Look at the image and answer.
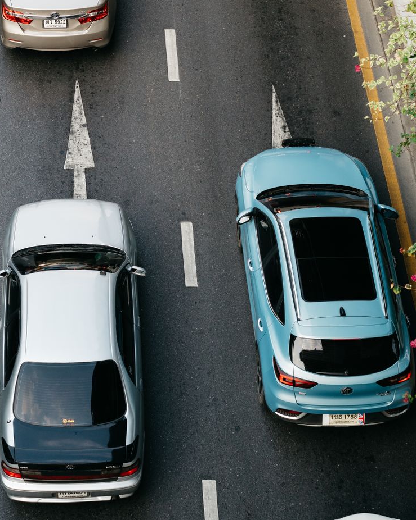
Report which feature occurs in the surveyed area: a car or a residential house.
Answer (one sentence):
It is a car that can be seen here.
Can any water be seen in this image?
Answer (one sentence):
No, no water is visible.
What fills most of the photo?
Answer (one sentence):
The scene is dominated by paved ground.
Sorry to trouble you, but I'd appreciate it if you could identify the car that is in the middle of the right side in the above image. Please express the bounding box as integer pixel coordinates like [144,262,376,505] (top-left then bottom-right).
[233,148,416,425]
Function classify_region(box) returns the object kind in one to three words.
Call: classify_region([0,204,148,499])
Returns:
car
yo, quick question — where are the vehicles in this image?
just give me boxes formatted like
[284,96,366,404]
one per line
[233,148,416,425]
[0,204,148,499]
[0,0,117,49]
